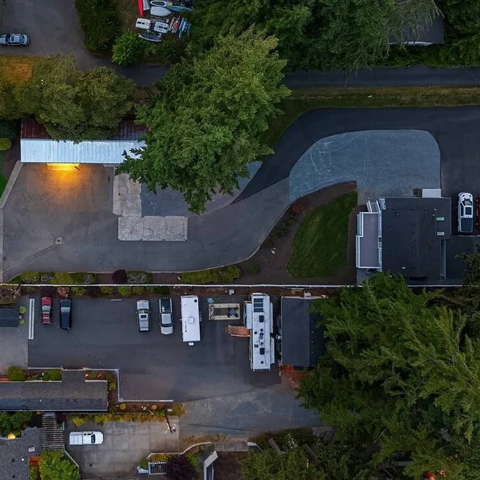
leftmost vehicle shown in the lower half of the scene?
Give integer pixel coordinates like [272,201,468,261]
[39,296,53,324]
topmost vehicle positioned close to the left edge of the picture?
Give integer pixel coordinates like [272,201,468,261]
[0,32,30,47]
